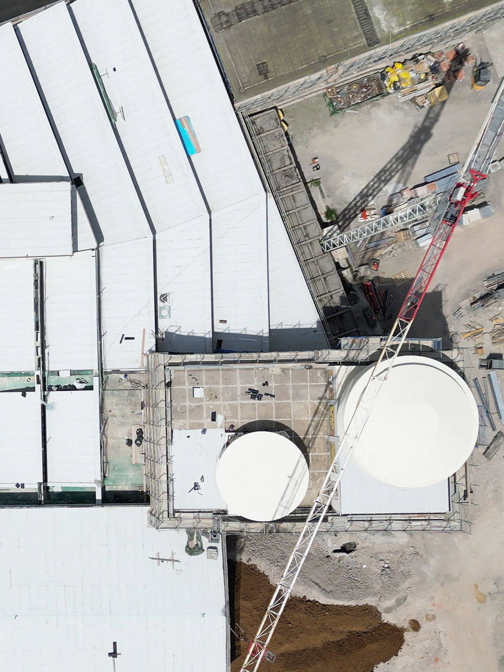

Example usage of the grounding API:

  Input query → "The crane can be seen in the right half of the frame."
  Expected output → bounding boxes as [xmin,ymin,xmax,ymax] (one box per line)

[235,71,504,672]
